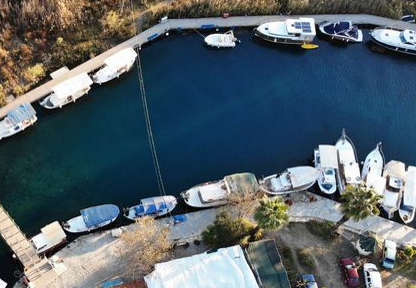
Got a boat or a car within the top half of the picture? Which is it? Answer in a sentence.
It is a boat that can be seen within the top half of the picture.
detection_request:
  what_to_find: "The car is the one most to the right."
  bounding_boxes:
[378,239,400,272]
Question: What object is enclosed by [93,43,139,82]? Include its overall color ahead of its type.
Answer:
white boat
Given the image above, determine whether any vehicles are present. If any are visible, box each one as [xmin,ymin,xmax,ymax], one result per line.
[337,258,362,288]
[378,239,400,272]
[359,263,386,288]
[299,275,320,288]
